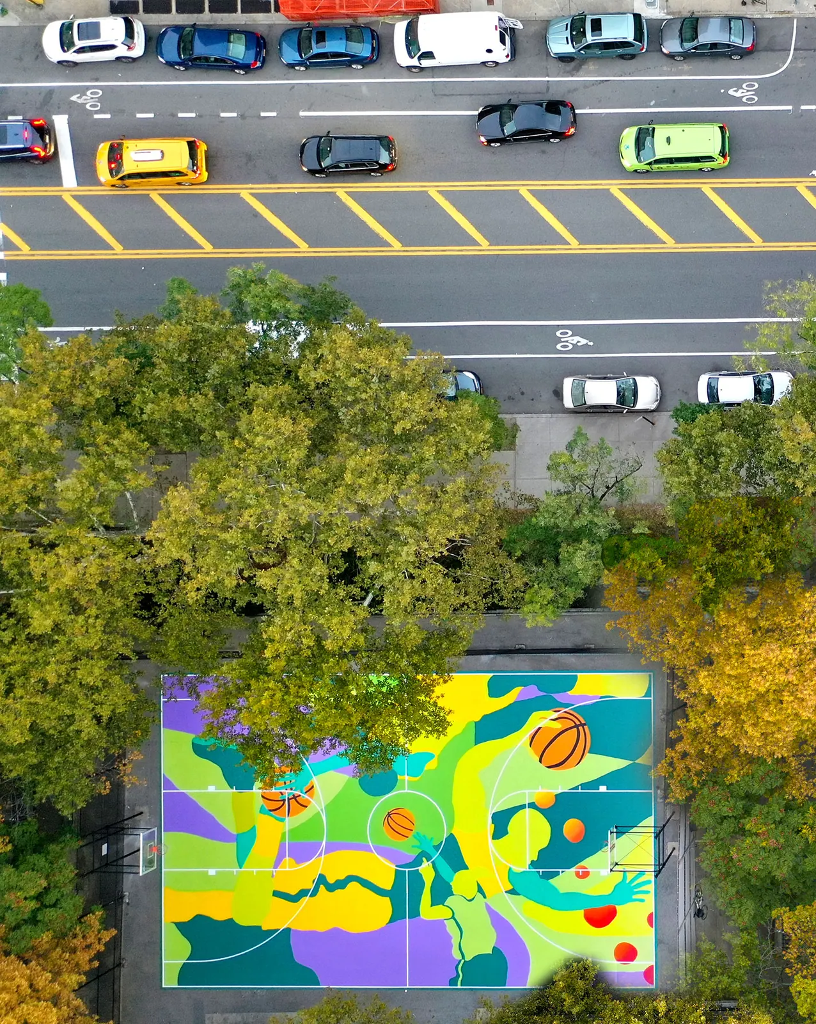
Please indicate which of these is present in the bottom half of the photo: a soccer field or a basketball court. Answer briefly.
basketball court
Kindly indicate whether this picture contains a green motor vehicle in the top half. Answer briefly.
Yes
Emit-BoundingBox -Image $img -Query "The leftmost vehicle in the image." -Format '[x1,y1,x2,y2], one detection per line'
[0,117,56,165]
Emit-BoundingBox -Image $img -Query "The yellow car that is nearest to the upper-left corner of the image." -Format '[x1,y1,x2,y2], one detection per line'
[95,134,210,189]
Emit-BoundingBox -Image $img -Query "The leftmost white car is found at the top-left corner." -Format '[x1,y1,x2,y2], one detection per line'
[41,13,148,68]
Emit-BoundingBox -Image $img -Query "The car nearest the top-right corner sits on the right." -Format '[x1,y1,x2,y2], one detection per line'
[661,10,757,62]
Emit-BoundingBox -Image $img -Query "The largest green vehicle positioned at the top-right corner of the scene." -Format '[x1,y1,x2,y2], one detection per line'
[619,119,730,173]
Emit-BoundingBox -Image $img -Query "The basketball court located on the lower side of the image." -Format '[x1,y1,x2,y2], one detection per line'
[160,670,658,993]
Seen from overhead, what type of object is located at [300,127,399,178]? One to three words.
car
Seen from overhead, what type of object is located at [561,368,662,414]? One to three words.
car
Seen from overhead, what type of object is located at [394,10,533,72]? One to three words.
van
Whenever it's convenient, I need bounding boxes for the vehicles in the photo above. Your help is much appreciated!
[619,119,730,173]
[41,13,148,68]
[95,134,210,189]
[697,364,794,410]
[157,19,268,74]
[476,95,578,148]
[0,117,56,165]
[561,368,662,414]
[661,10,757,62]
[546,8,648,63]
[300,127,399,178]
[394,10,533,72]
[279,18,381,71]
